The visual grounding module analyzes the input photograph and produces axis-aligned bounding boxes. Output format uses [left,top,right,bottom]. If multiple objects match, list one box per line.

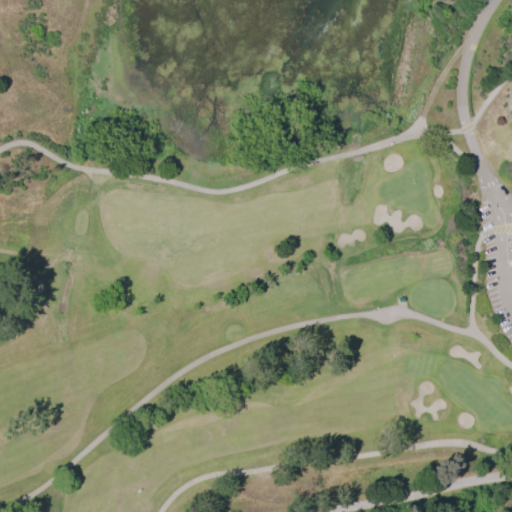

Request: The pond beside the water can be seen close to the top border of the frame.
[121,0,410,170]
